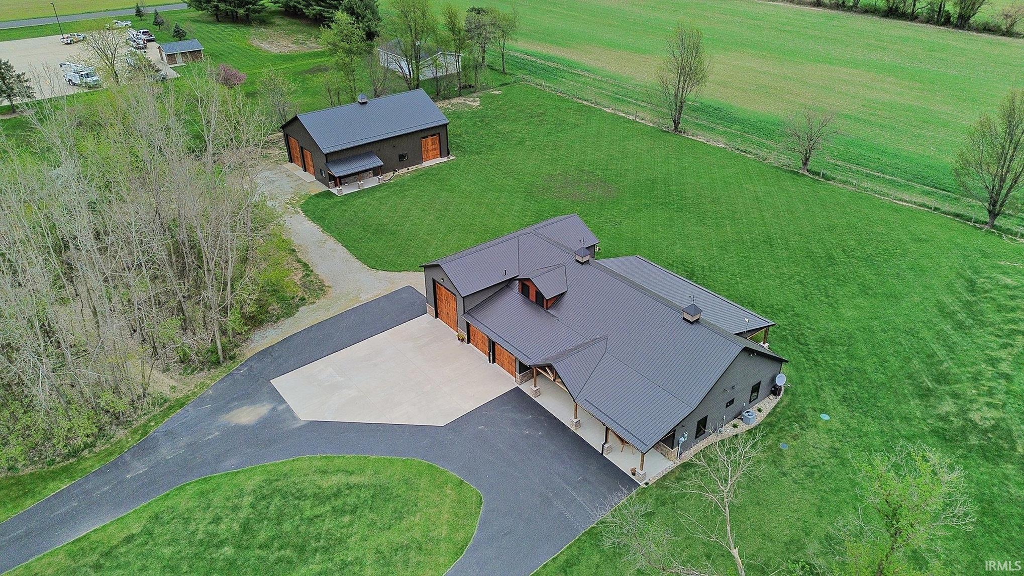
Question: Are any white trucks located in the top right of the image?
No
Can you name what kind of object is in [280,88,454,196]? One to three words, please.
barn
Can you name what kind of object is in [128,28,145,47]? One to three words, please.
vehicle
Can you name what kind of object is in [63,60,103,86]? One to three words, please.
truck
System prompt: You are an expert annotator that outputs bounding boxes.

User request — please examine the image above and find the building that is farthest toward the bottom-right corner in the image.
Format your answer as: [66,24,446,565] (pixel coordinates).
[419,214,789,484]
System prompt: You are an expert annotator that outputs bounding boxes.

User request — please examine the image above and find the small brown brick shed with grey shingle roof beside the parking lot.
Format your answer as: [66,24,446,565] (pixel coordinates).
[158,40,204,64]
